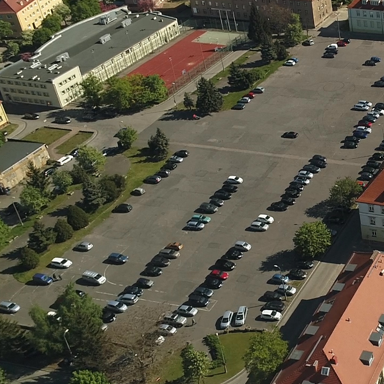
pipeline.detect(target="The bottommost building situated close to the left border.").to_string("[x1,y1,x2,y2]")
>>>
[0,138,51,193]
